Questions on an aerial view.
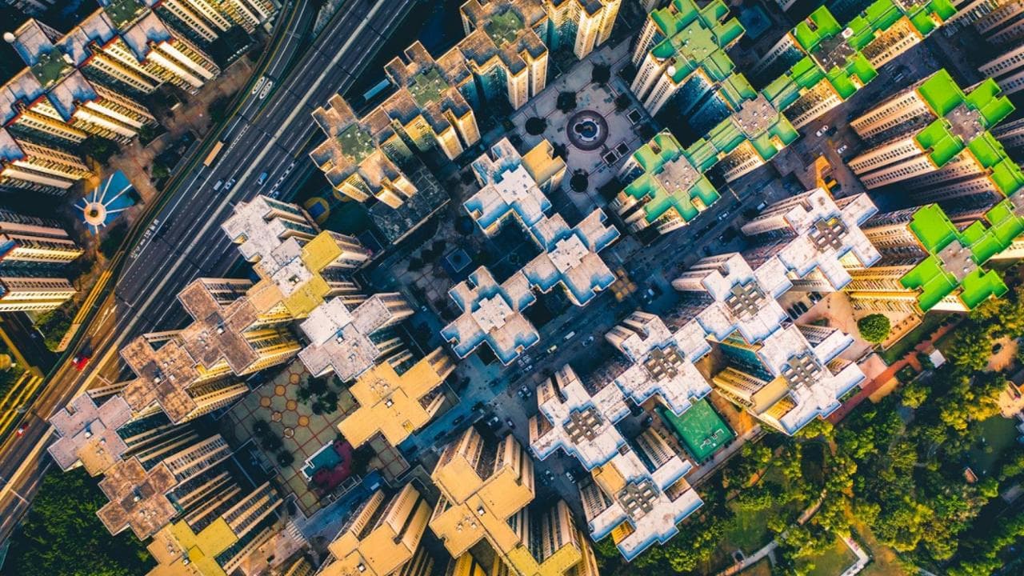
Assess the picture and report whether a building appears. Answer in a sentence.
Yes, there's a building down there.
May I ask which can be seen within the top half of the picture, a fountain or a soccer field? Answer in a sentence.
The one visible within the top half of the picture is a fountain.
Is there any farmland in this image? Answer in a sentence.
No, farmland can't be seen anywhere here.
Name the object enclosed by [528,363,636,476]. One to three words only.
building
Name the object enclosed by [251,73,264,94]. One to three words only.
vehicle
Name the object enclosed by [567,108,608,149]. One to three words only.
fountain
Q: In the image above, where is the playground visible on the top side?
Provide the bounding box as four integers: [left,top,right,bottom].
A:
[297,175,373,240]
